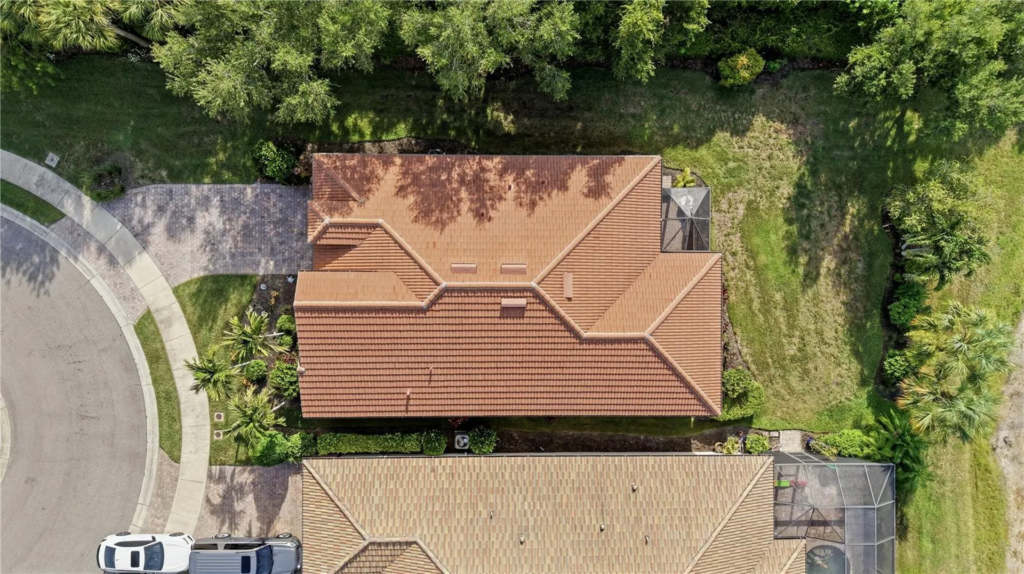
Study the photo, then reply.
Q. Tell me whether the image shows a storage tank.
No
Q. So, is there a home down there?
Yes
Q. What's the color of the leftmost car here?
white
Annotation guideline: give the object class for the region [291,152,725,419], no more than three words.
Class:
house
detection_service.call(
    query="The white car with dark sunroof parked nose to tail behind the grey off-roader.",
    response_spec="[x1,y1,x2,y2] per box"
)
[100,532,197,574]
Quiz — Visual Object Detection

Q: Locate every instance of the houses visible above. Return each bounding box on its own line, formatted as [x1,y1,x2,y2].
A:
[299,452,809,574]
[291,152,725,419]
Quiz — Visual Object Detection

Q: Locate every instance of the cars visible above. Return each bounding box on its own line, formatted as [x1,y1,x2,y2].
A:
[189,532,301,574]
[100,532,197,574]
